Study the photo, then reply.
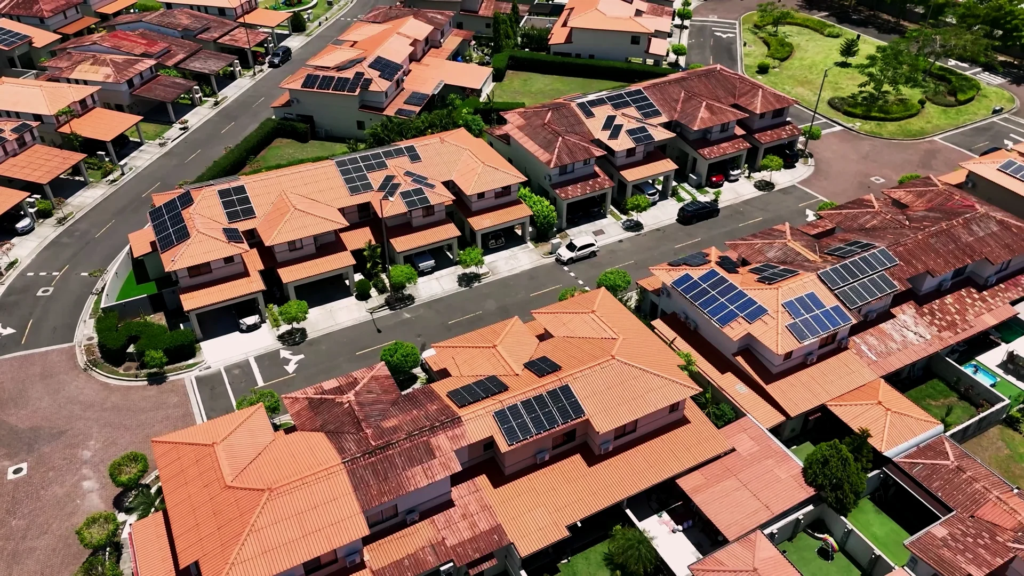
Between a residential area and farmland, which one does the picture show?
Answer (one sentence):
This looks like a residential area.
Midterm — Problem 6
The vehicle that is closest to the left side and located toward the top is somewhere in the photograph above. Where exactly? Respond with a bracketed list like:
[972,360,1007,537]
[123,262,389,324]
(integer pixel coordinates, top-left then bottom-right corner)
[0,208,43,234]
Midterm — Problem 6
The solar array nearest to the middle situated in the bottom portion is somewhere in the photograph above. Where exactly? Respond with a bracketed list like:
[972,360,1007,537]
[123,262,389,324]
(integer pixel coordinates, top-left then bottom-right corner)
[524,356,561,374]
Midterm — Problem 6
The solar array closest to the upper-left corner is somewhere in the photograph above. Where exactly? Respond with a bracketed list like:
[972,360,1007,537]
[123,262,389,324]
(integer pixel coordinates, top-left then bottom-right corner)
[0,27,31,48]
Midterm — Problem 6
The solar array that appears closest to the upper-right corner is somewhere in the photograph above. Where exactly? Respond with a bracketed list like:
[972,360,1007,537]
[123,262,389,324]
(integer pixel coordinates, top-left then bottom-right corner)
[998,160,1024,180]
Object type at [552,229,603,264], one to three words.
car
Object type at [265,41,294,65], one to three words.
car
